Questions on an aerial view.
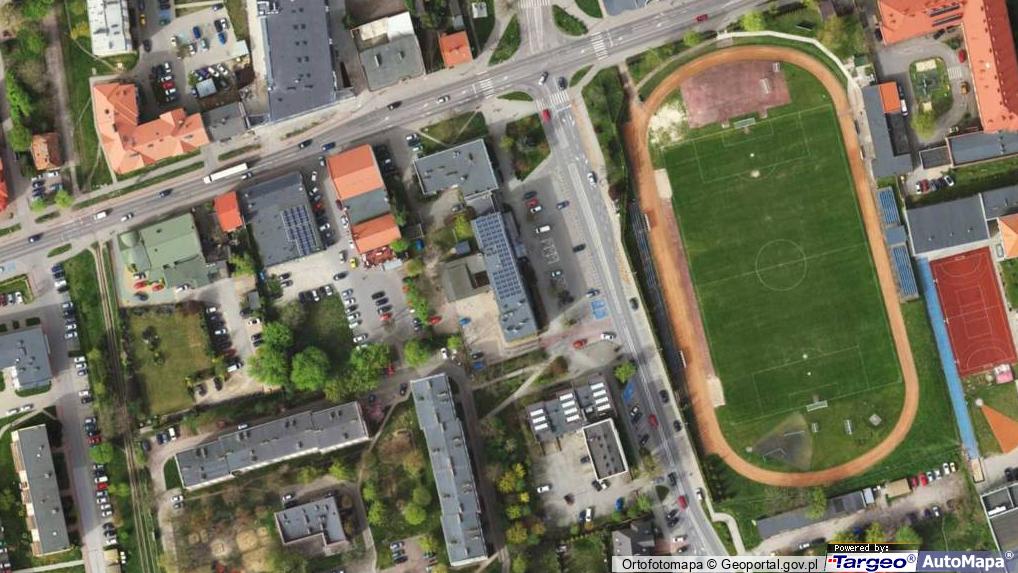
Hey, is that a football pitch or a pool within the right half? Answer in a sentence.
Looking within the right half, you will find a football pitch.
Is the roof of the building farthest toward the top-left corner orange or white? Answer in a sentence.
The roof of the building farthest toward the top-left corner is white.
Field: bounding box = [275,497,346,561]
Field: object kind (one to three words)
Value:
building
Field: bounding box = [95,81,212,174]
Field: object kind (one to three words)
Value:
building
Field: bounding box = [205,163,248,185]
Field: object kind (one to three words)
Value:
truck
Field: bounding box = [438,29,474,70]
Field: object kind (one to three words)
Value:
house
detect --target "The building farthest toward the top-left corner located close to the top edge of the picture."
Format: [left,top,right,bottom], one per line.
[87,0,132,58]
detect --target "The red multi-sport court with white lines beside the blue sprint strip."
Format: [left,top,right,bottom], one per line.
[930,247,1016,376]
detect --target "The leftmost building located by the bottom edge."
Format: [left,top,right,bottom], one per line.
[14,424,72,556]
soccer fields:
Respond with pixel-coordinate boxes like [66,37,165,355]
[661,101,903,427]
